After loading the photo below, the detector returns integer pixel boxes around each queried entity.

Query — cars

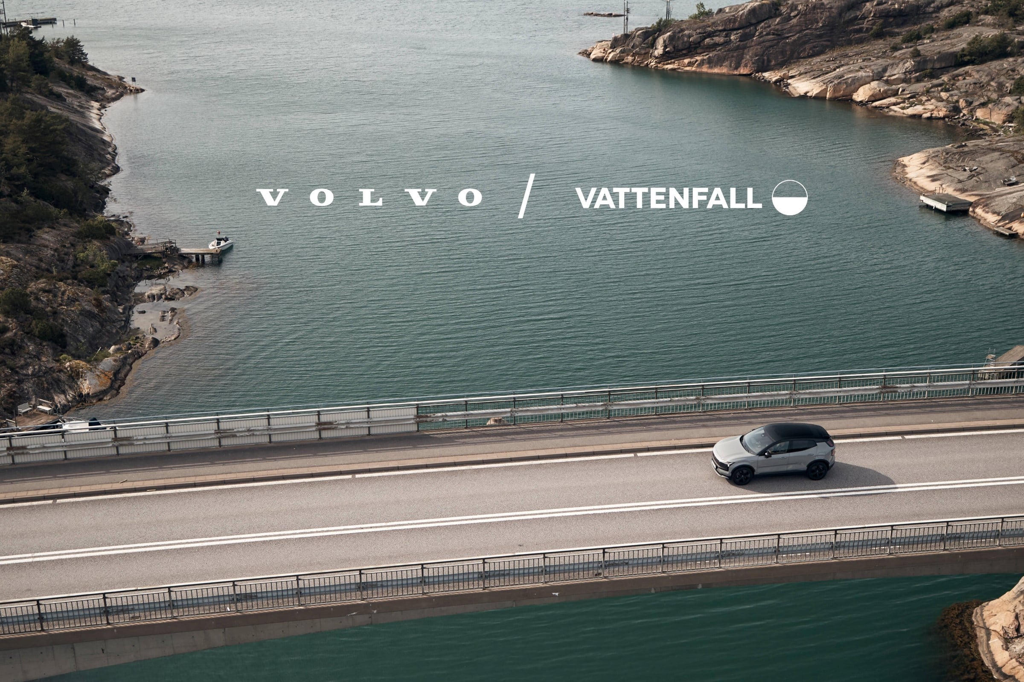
[711,424,836,484]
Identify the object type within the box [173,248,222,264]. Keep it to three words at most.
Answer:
pier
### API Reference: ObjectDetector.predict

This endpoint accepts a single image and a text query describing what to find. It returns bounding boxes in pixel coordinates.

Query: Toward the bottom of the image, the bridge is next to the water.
[0,388,1024,681]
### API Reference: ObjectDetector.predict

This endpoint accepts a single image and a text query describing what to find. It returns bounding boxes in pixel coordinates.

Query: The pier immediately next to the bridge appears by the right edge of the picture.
[977,342,1024,380]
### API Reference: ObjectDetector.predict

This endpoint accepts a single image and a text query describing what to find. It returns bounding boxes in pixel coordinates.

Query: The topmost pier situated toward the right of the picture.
[920,188,967,210]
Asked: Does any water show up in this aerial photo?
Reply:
Yes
